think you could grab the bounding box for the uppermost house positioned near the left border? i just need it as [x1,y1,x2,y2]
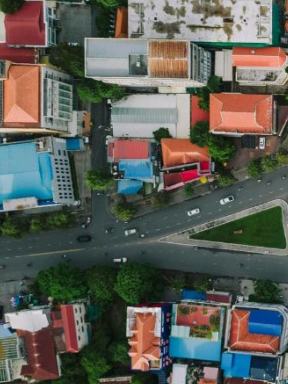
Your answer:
[5,0,65,51]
